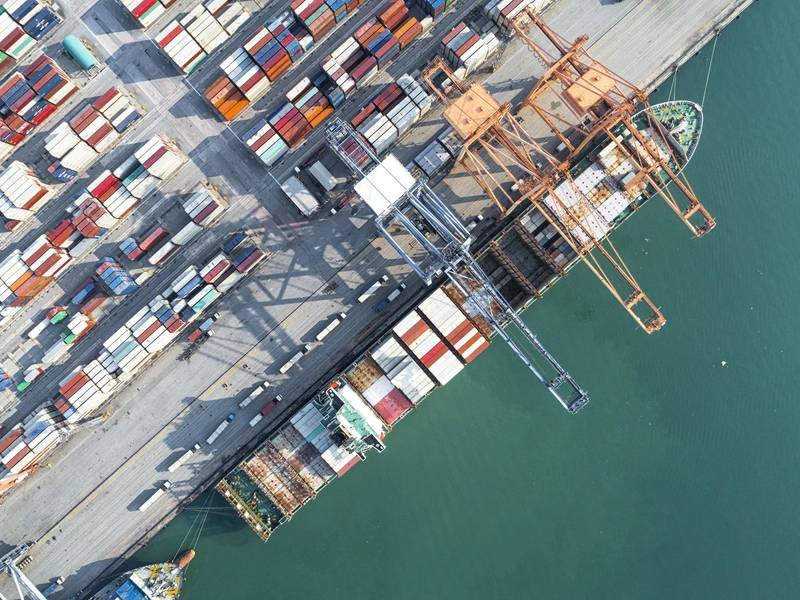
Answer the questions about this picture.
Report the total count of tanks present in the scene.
1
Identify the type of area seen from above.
port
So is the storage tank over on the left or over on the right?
left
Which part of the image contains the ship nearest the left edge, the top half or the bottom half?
bottom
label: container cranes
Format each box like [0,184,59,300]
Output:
[0,543,48,600]
[418,55,677,339]
[506,0,722,242]
[317,112,598,417]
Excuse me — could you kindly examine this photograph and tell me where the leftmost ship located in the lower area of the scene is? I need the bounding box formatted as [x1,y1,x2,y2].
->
[89,547,197,600]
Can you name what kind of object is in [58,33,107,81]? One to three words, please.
storage tank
